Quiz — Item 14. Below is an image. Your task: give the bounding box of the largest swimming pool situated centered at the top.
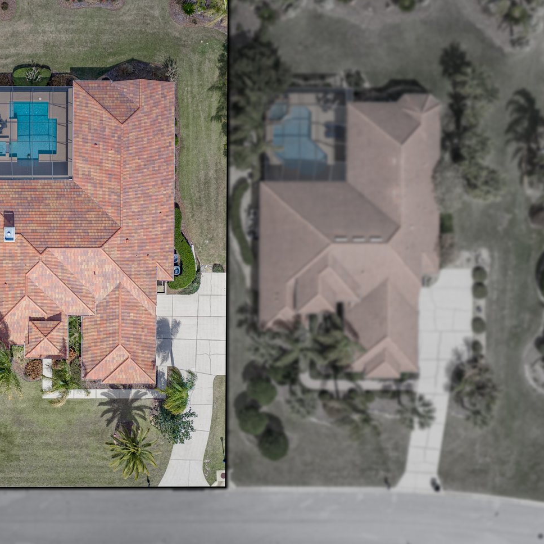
[273,105,327,169]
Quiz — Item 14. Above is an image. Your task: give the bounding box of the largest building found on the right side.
[258,93,442,380]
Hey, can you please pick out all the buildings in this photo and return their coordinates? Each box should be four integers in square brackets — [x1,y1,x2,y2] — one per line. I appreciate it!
[258,93,442,380]
[0,76,176,386]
